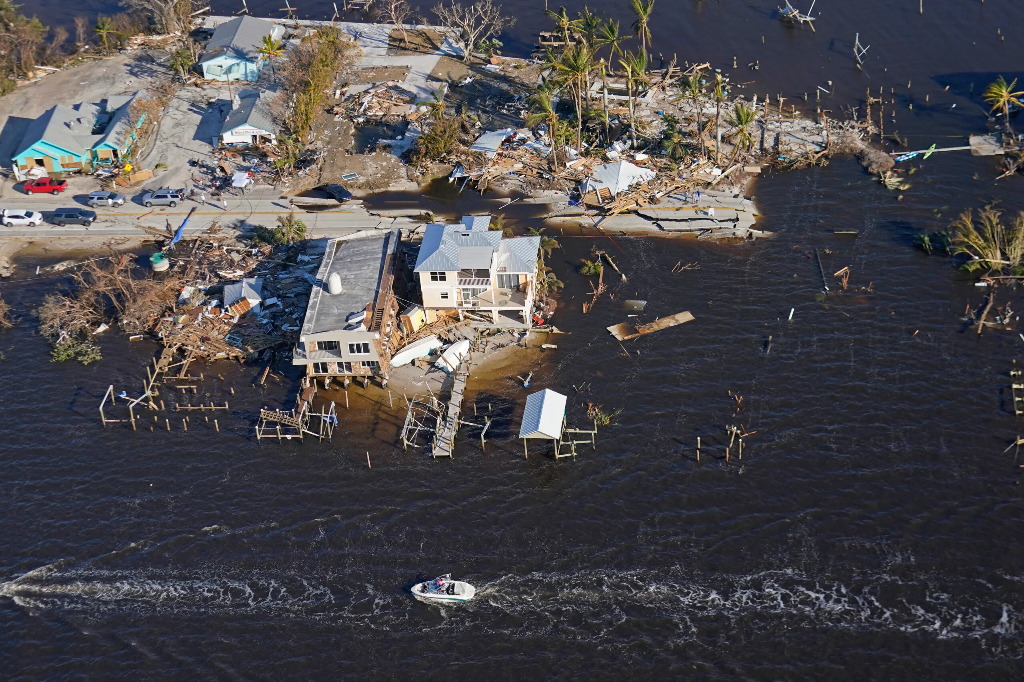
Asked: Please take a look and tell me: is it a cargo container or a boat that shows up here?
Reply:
boat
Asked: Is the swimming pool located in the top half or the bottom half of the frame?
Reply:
top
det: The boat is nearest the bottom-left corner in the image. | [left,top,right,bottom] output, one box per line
[411,575,479,603]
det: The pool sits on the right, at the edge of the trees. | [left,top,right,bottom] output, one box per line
[589,82,656,104]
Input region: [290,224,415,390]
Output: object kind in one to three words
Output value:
house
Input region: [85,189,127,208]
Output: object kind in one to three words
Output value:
car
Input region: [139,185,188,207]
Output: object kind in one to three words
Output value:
car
